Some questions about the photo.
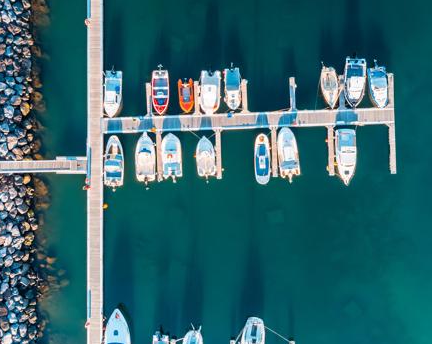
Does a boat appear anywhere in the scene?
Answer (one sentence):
Yes, a boat can be made out from above.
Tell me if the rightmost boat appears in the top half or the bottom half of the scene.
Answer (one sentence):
You can find the rightmost boat in the top half.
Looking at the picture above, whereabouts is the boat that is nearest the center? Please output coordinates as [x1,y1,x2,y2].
[192,135,216,185]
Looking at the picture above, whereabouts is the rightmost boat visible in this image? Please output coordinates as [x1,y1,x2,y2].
[366,59,389,109]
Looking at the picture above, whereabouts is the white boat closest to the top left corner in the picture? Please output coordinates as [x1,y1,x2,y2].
[102,60,122,118]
